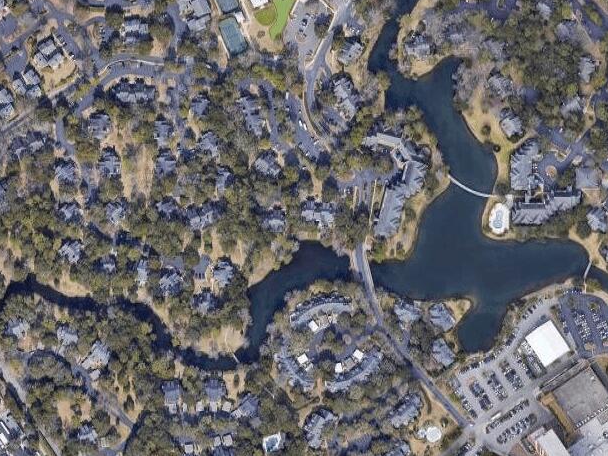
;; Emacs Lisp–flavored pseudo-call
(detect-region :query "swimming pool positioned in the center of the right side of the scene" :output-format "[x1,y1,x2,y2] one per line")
[491,203,507,233]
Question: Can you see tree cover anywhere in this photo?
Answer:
Yes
